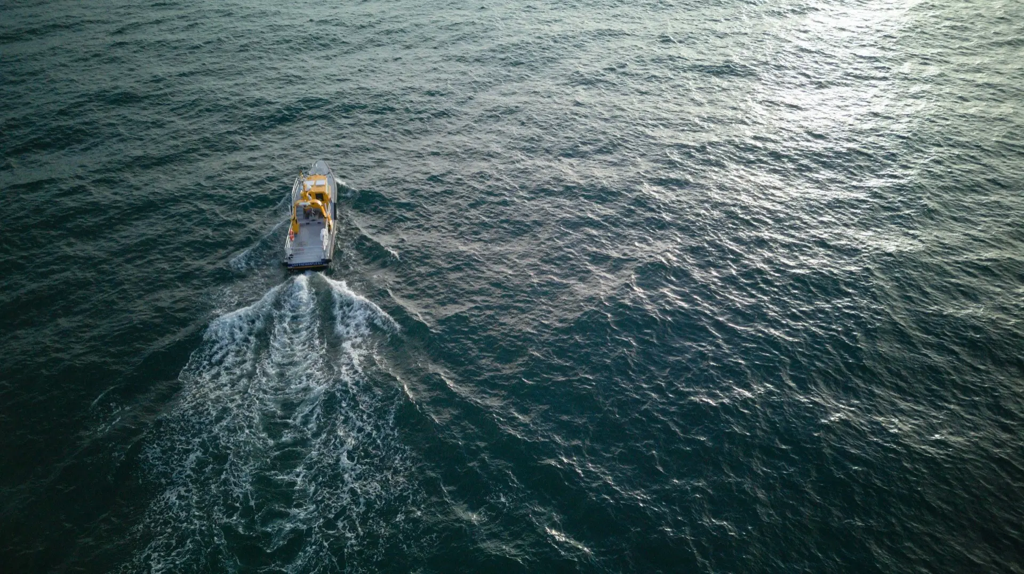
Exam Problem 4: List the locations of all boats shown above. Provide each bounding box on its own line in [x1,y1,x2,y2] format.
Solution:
[281,161,339,272]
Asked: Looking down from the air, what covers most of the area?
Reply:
water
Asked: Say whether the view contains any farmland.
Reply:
No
